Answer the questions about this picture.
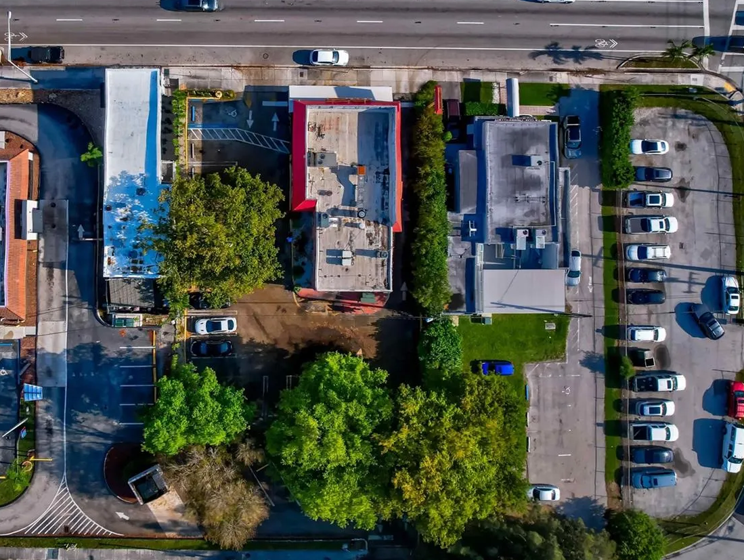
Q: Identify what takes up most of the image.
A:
paved ground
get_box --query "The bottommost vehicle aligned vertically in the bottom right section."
[722,420,744,470]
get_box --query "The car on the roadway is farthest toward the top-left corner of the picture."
[28,44,65,64]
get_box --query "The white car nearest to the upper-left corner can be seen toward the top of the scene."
[309,48,348,67]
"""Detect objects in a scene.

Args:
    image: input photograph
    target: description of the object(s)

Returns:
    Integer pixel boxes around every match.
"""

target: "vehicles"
[28,44,65,64]
[631,138,669,157]
[633,165,674,183]
[624,215,677,234]
[625,267,667,285]
[192,339,231,358]
[630,446,674,465]
[725,381,744,419]
[627,325,666,344]
[720,275,743,314]
[631,468,677,490]
[633,374,687,394]
[690,303,726,342]
[629,422,679,444]
[180,0,219,14]
[566,249,584,288]
[190,291,229,309]
[625,288,667,306]
[309,48,348,67]
[624,242,671,261]
[635,399,675,417]
[722,420,744,470]
[479,359,514,377]
[624,189,673,210]
[523,483,563,503]
[196,317,235,336]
